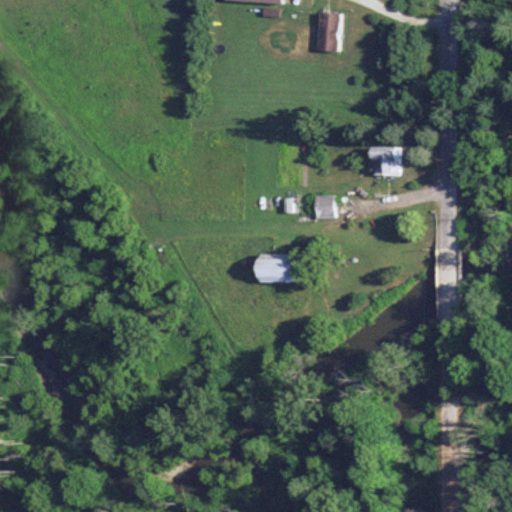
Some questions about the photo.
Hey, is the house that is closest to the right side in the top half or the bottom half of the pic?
top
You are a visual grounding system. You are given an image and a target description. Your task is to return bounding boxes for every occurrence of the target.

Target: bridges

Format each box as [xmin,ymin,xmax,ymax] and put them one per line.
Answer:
[438,242,461,332]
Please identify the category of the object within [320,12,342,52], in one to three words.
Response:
house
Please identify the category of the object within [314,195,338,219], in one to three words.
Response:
house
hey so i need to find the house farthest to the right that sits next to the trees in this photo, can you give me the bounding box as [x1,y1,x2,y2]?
[368,147,404,180]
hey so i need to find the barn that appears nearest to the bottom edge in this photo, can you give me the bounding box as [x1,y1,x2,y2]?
[253,254,294,282]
